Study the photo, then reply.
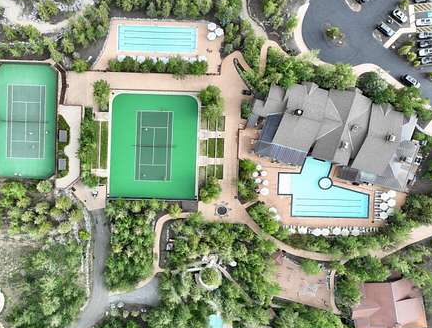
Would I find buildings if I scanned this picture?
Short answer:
Yes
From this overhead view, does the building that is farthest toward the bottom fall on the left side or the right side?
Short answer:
right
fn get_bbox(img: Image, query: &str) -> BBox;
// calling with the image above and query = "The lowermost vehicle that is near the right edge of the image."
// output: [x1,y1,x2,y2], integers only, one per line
[402,73,419,88]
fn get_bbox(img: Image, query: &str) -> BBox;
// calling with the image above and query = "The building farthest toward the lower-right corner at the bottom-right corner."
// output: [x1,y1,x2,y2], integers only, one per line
[350,276,427,328]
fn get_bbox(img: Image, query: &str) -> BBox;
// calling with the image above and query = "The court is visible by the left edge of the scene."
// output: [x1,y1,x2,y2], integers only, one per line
[0,61,57,179]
